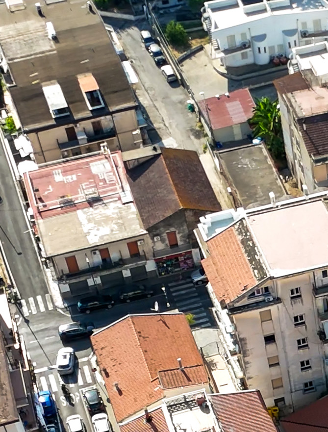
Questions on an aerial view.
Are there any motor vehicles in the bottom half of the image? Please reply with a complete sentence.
Yes, a motor vehicle shows up in the bottom half of the image.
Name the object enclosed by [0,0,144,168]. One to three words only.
building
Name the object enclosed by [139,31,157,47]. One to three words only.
car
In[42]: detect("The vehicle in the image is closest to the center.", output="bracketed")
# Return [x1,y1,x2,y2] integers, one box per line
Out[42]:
[187,268,205,286]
